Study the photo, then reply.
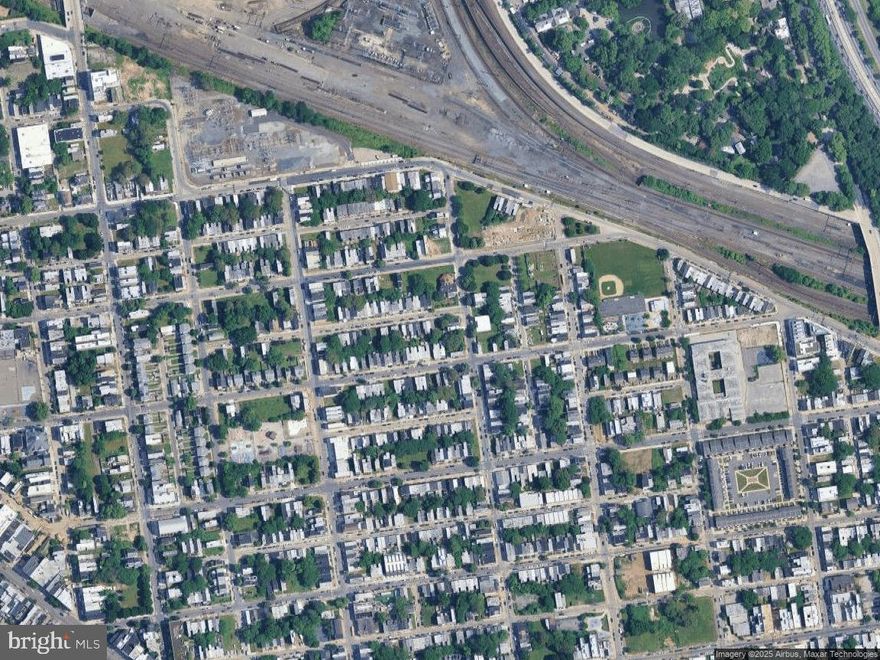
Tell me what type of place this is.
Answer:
residential area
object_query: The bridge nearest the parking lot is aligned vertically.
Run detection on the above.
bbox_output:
[852,201,880,348]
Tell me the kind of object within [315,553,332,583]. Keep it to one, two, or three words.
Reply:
building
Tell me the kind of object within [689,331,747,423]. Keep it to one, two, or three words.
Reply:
building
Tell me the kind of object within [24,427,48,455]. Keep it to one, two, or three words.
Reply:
house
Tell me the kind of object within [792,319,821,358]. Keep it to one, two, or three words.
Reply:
house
